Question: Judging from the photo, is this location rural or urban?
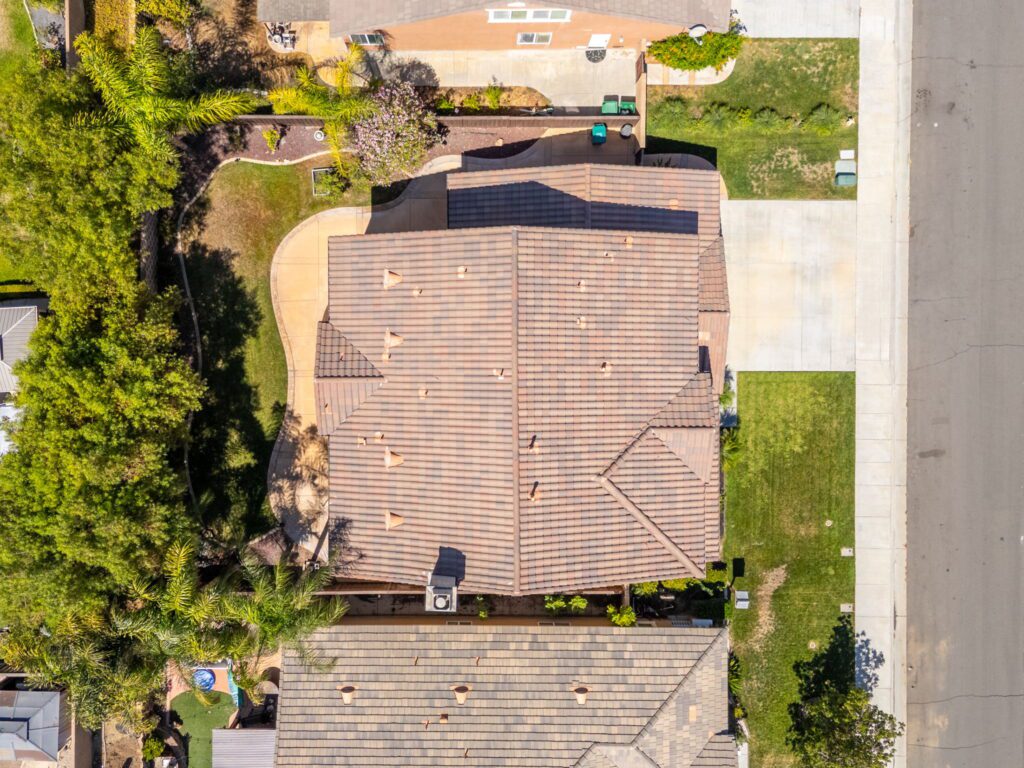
urban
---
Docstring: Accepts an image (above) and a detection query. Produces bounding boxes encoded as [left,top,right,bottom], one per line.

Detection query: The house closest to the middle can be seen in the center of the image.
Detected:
[311,160,732,611]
